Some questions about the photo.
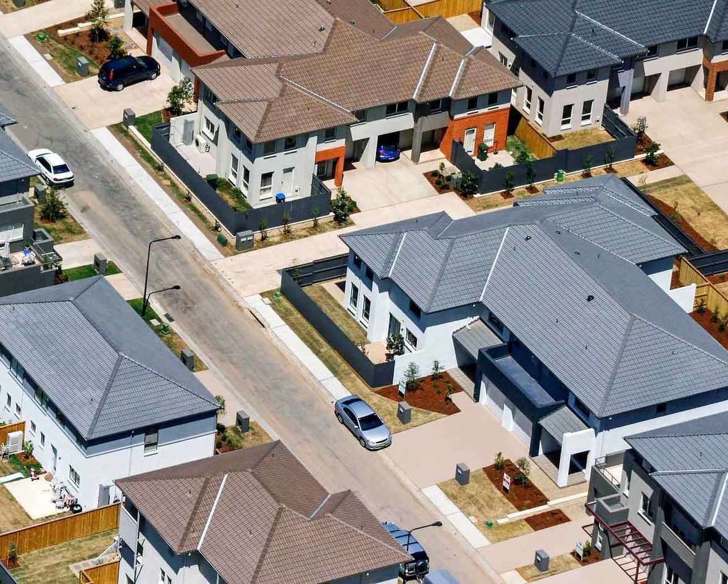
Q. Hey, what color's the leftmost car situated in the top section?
white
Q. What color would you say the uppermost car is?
black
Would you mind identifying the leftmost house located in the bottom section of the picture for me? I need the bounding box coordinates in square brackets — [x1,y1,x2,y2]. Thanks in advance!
[0,273,222,513]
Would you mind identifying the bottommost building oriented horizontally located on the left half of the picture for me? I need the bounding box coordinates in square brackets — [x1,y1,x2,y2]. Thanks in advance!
[81,439,416,584]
